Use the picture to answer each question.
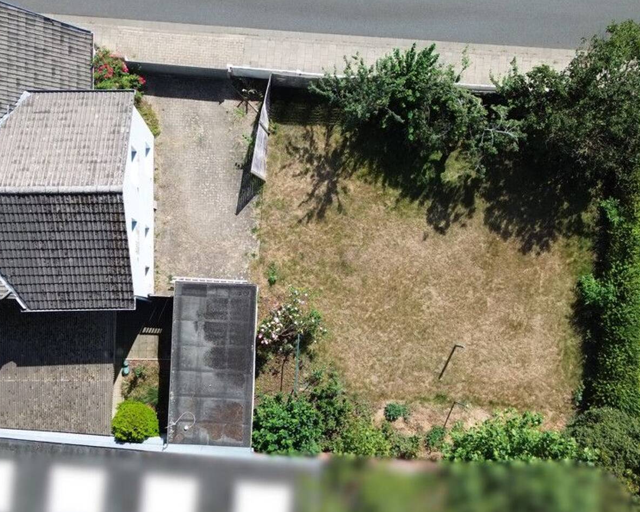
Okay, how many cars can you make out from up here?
0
